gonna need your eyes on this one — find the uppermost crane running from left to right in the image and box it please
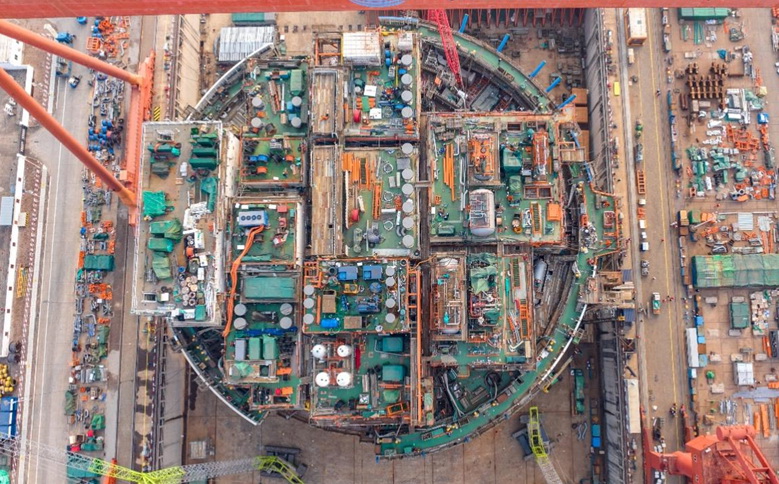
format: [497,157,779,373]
[0,0,779,221]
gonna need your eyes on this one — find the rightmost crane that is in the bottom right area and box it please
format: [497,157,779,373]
[641,397,770,484]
